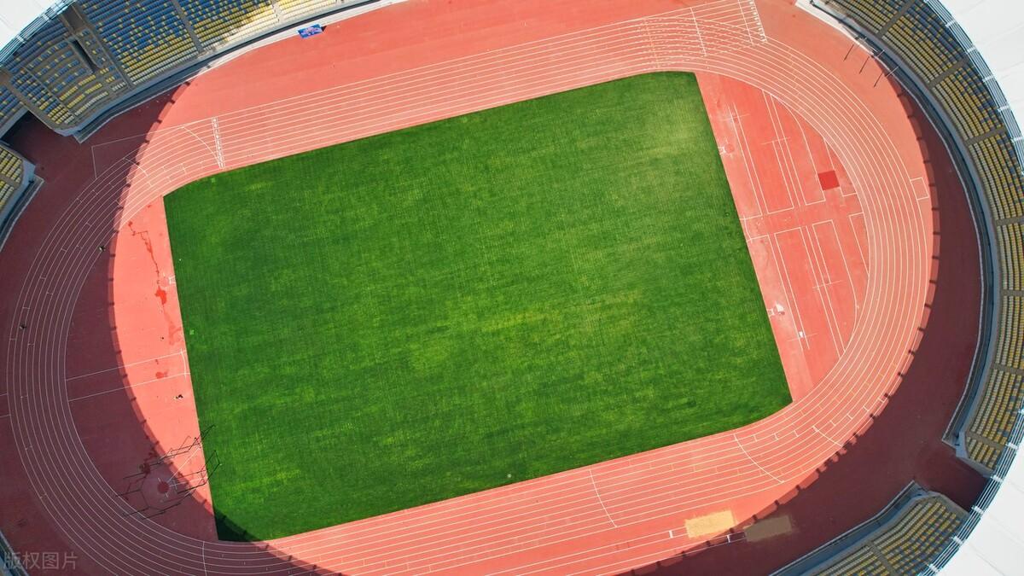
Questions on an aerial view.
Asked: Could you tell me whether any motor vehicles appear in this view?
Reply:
No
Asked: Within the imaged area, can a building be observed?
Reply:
No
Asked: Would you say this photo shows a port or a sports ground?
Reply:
sports ground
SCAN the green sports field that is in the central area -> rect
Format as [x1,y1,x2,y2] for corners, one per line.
[162,71,794,544]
